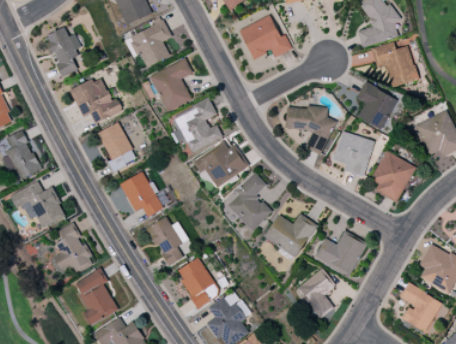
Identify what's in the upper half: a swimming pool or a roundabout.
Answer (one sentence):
The feature located in the upper half is a swimming pool.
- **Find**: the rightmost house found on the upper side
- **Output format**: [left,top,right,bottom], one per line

[416,110,456,160]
